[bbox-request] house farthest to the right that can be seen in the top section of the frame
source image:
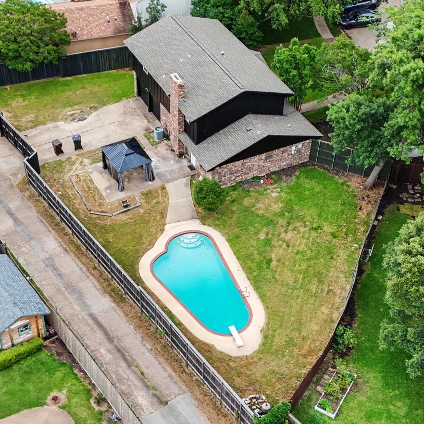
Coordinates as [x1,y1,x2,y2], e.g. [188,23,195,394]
[124,15,323,190]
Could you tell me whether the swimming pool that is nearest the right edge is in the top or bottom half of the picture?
bottom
